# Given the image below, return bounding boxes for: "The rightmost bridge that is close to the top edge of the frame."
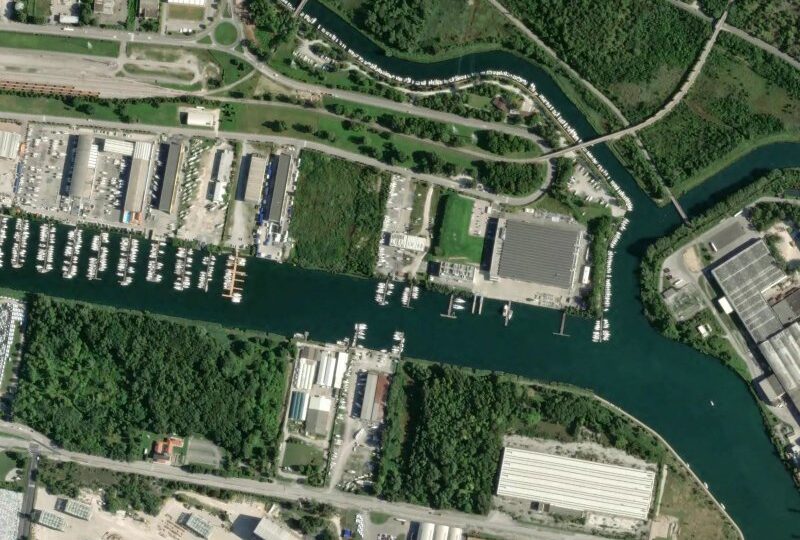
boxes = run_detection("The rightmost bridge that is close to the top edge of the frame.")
[539,0,734,162]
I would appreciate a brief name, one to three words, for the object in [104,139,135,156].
building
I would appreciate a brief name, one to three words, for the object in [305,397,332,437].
shed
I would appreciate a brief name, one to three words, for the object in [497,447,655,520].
building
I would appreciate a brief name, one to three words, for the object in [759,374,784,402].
shed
